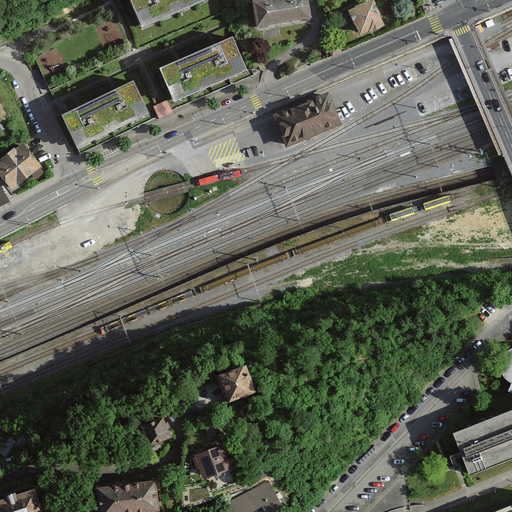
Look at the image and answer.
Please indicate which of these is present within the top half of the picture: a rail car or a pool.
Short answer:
rail car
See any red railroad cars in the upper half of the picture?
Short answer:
Yes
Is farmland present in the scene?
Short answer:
No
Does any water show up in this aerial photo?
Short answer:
No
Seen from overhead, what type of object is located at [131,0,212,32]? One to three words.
building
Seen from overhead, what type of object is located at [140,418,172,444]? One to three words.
house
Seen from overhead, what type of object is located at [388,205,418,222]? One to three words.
rail car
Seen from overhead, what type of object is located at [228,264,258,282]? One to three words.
rail car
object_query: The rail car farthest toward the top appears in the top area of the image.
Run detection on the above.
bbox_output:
[197,168,243,186]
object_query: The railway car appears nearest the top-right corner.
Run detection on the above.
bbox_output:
[422,194,454,210]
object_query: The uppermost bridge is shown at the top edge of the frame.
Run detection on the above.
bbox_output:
[448,26,512,178]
